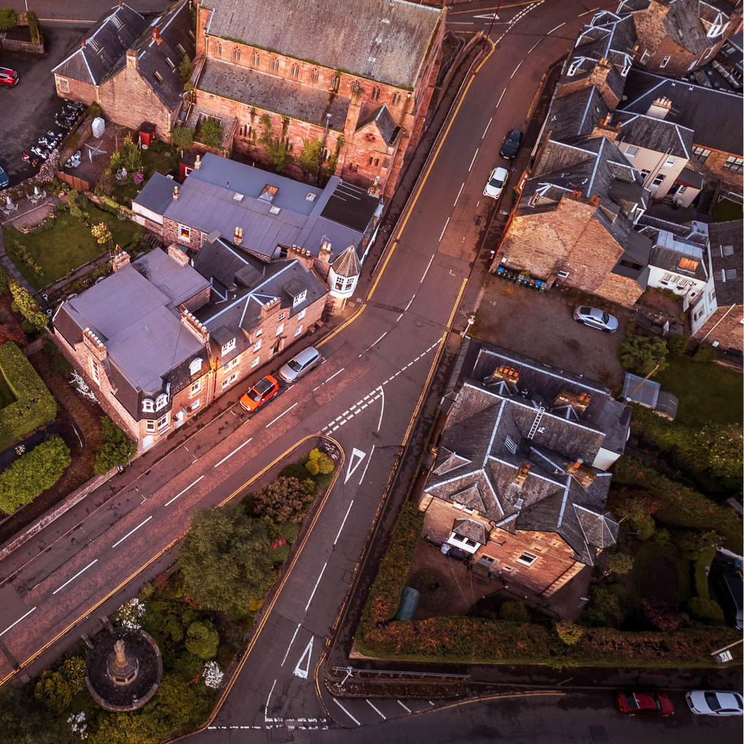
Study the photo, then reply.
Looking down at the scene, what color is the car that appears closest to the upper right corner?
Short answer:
black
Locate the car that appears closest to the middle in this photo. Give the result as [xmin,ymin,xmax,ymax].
[274,343,328,388]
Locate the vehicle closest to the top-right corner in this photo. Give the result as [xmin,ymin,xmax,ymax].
[498,127,522,163]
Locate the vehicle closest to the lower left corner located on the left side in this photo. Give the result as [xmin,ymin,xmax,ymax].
[233,372,284,414]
